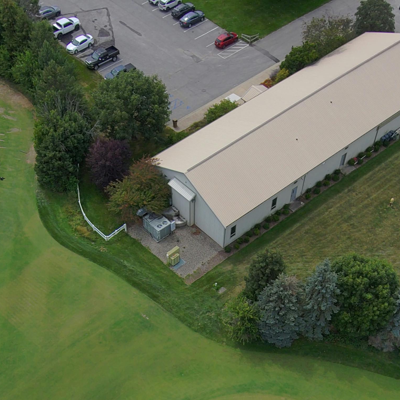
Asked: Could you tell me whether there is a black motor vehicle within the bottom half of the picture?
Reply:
No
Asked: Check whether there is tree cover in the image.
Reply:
Yes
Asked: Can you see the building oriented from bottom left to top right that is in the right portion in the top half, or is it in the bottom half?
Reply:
top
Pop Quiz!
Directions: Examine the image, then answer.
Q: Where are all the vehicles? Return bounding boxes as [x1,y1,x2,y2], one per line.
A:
[103,60,141,82]
[66,34,95,54]
[84,46,122,71]
[34,3,63,20]
[214,32,240,50]
[179,11,206,28]
[156,0,183,14]
[50,17,85,39]
[170,3,197,21]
